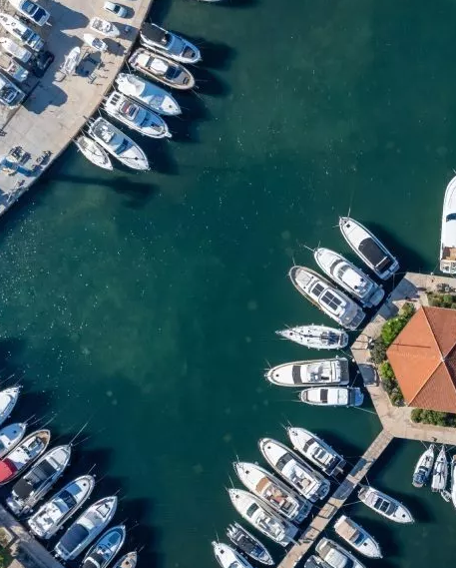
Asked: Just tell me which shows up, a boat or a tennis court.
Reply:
boat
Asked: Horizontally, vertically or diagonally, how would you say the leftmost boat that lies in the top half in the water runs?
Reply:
diagonally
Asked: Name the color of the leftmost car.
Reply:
black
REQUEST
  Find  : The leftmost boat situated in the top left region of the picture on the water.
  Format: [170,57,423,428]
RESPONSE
[74,133,122,176]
